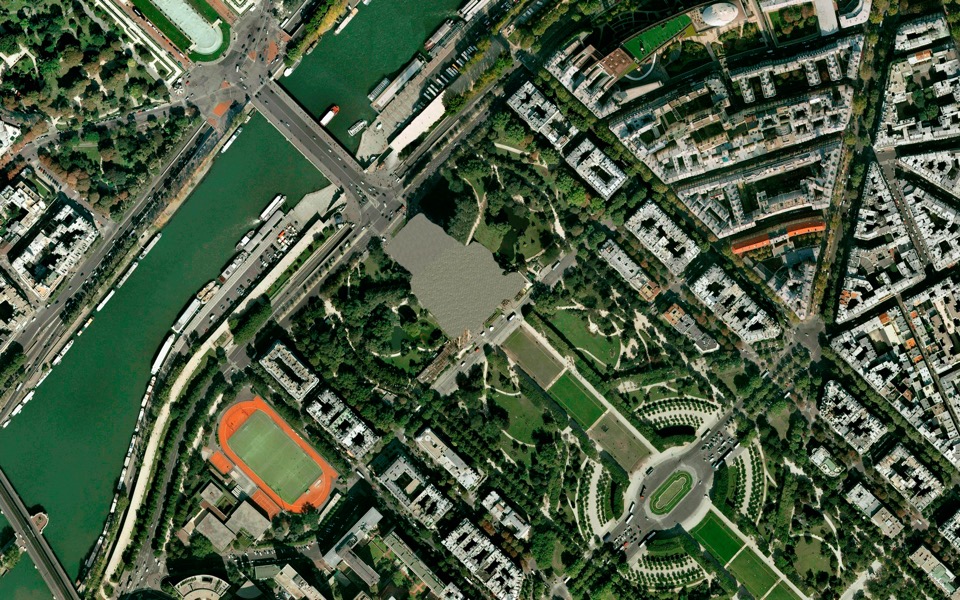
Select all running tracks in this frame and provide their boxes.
[219,396,338,513]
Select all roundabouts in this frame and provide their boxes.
[589,398,753,567]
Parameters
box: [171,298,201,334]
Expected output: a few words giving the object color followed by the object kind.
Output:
white vessel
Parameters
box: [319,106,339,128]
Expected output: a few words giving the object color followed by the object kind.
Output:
white boat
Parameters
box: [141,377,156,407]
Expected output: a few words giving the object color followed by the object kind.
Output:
white boat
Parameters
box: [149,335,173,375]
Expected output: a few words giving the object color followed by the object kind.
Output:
white vessel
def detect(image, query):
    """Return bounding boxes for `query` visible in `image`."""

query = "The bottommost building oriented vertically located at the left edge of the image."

[0,278,33,349]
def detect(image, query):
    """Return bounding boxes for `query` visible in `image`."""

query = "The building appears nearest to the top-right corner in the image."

[893,12,951,52]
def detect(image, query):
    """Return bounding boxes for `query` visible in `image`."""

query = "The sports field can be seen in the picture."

[228,409,323,503]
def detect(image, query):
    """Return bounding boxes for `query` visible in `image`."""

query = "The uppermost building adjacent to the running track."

[259,340,320,401]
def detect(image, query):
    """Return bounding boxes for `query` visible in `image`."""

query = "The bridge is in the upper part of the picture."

[252,82,364,184]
